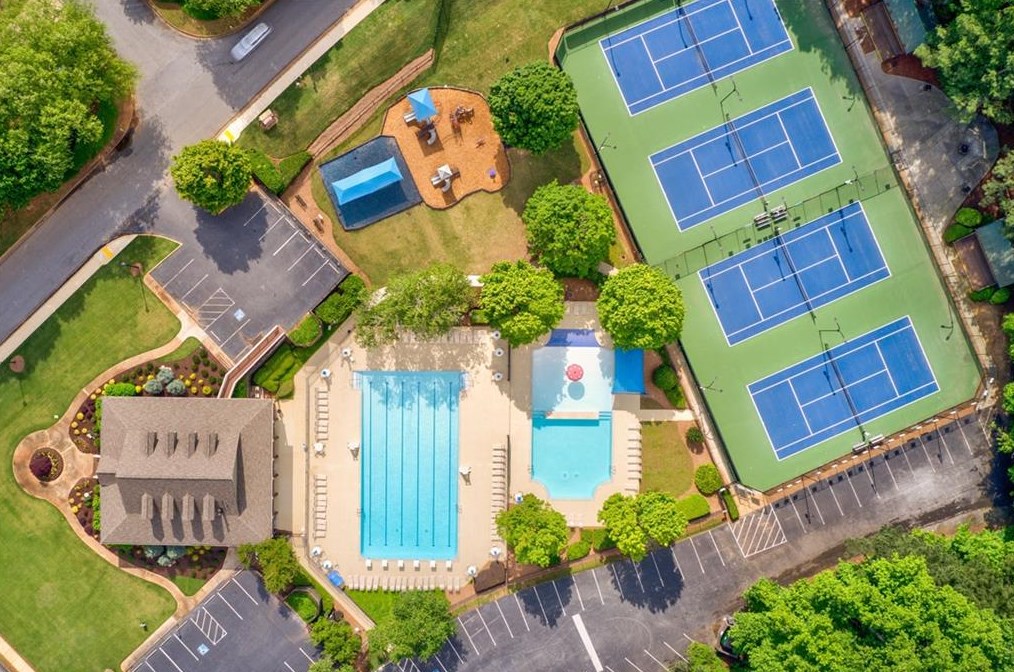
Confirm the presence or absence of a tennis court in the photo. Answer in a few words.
Yes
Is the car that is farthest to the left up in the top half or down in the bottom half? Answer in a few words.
top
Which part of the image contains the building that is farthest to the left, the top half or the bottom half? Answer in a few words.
bottom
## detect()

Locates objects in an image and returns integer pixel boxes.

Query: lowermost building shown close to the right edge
[946,219,1014,292]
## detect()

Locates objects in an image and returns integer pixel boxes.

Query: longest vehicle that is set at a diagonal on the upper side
[231,24,269,57]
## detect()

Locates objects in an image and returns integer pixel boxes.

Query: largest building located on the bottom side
[90,397,281,544]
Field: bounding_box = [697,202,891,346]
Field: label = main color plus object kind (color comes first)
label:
blue tennis court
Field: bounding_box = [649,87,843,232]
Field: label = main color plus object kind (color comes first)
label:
blue tennis court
